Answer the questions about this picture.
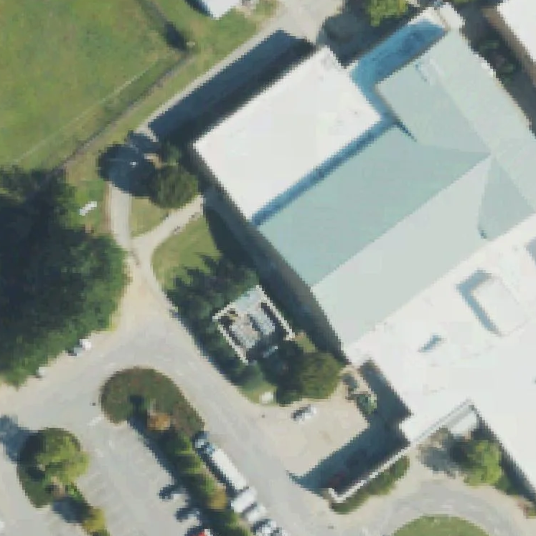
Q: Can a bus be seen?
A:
Yes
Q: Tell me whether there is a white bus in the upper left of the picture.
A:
No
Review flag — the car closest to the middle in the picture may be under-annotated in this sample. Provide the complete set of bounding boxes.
[290,404,315,423]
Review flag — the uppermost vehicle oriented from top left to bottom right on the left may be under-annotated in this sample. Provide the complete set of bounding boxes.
[190,427,211,451]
